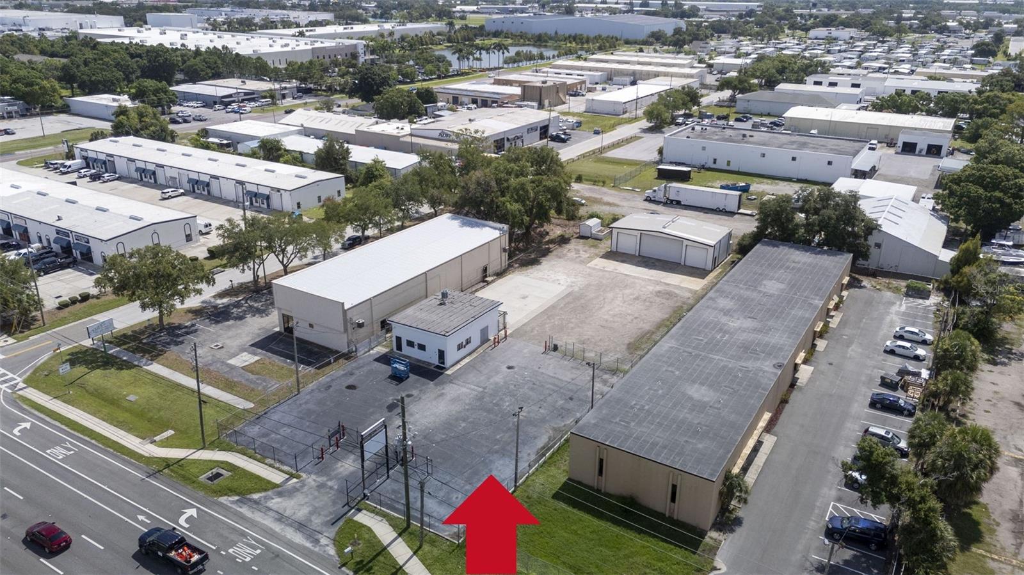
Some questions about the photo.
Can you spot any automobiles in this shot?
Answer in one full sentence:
Yes, the photo shows an automobile.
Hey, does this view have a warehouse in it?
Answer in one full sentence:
Yes, you can see a warehouse in this photo.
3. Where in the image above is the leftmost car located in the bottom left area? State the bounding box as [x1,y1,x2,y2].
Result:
[24,522,73,555]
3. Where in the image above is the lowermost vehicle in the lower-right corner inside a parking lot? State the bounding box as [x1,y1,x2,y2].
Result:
[825,514,893,551]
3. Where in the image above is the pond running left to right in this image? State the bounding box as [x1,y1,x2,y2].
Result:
[437,45,608,70]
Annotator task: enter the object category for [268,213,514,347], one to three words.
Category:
warehouse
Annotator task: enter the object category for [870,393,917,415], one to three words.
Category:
car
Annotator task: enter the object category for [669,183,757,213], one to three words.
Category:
trailer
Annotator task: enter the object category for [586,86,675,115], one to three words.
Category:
building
